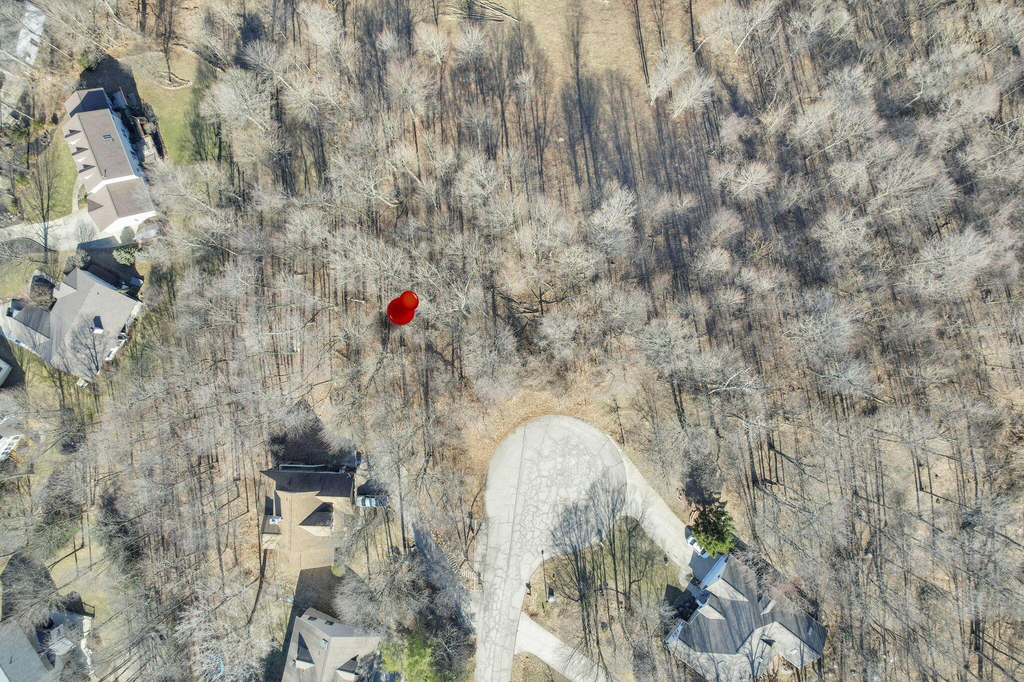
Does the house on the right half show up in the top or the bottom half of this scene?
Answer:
bottom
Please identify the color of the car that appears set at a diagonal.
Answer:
white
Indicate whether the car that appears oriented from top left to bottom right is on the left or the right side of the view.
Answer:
right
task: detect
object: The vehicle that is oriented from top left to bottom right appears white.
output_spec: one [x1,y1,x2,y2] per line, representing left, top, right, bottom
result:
[684,534,709,558]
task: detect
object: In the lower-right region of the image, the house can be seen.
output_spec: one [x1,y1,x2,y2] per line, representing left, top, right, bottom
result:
[666,552,830,682]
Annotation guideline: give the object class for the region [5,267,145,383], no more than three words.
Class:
house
